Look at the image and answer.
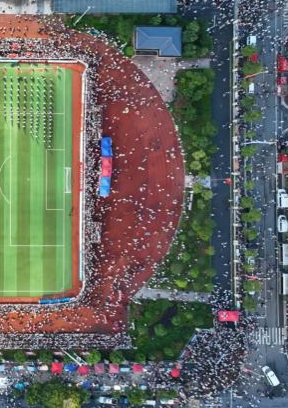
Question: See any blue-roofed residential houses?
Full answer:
Yes, the frame does contain a blue-roofed residential house.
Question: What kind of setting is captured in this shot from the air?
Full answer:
This image shows a sports ground.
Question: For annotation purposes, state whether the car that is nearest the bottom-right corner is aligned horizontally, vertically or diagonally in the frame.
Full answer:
What the image shows is the car that is nearest the bottom-right corner lying diagonally.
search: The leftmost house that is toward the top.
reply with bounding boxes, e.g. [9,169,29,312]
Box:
[130,28,180,59]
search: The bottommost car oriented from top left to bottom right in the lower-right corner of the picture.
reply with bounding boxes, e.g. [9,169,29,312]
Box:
[258,363,279,385]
